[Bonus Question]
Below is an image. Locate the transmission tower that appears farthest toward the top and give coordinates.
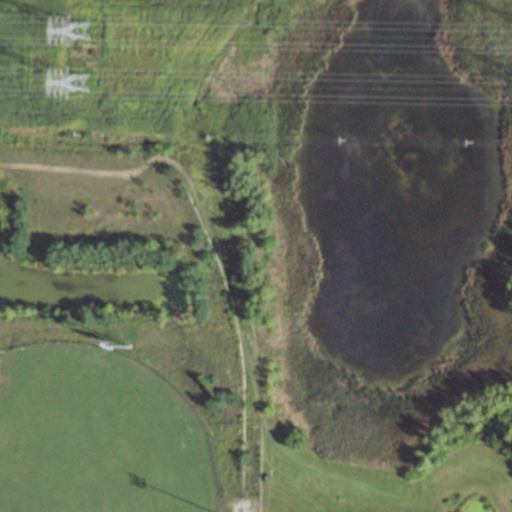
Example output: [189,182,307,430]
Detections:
[46,15,90,45]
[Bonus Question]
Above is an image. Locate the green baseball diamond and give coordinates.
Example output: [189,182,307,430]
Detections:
[0,342,220,512]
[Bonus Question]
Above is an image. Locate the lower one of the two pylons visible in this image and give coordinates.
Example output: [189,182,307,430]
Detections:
[46,67,90,96]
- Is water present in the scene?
Yes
